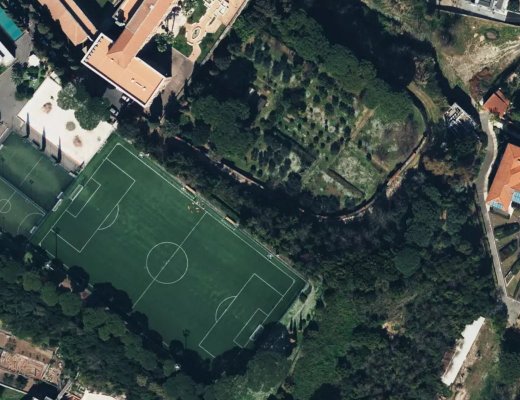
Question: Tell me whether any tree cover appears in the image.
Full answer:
Yes, there is tree cover in the image.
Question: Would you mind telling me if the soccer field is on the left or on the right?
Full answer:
The soccer field sits on the left side.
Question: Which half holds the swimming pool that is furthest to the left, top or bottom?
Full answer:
The top half of the photo is where the swimming pool that is furthest to the left is.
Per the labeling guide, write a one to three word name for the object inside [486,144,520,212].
house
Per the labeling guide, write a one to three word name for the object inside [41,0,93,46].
house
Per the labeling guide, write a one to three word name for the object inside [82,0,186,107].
building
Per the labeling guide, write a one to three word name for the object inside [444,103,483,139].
building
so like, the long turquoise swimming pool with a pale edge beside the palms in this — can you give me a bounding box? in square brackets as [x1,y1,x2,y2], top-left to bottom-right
[0,7,23,41]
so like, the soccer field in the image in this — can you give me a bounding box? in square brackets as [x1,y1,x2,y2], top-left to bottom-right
[26,129,309,390]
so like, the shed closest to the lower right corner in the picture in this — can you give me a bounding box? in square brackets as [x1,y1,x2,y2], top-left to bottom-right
[438,316,486,386]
